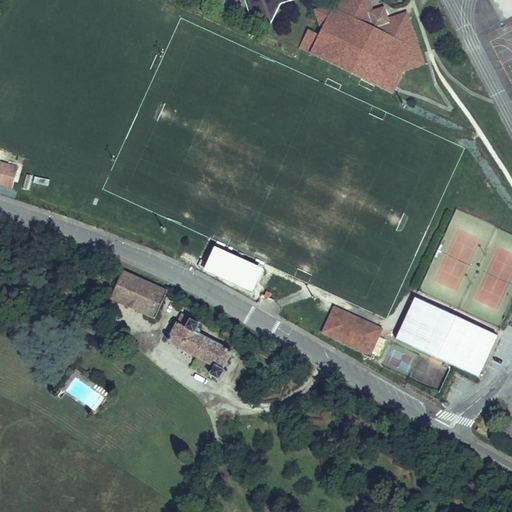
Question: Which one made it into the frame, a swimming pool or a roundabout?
swimming pool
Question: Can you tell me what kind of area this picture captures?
sports ground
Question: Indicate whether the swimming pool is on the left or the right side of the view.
left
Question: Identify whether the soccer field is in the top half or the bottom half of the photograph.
top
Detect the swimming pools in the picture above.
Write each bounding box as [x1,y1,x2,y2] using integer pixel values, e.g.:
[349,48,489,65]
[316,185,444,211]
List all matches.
[64,368,108,414]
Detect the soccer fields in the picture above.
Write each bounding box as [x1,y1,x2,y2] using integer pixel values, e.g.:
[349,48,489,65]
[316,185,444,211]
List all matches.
[104,17,464,316]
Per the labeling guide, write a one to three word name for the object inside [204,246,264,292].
building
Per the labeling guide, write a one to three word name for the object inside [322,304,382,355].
building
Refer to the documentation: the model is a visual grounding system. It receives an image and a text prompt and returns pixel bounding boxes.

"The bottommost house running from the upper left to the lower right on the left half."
[170,318,230,378]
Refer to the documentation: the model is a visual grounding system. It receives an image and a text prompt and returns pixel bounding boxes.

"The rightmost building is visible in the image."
[396,296,498,376]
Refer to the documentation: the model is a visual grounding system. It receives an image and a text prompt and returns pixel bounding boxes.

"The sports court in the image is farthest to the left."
[381,342,419,378]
